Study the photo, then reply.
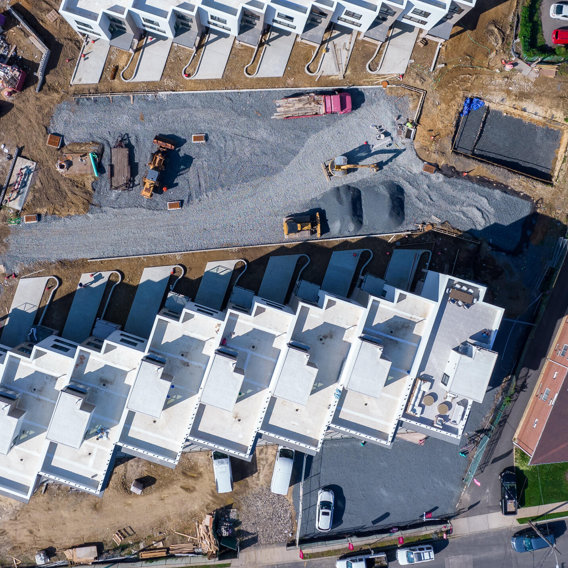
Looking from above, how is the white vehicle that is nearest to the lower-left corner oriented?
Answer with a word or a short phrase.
vertically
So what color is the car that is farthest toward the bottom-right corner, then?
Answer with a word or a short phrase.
blue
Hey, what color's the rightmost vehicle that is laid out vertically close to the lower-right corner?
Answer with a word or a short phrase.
black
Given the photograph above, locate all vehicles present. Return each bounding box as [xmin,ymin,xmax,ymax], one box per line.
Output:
[271,445,297,499]
[548,5,568,21]
[497,469,518,518]
[137,134,175,199]
[396,545,436,568]
[290,89,352,118]
[317,152,379,184]
[283,211,319,238]
[336,551,390,568]
[211,450,233,498]
[315,489,337,532]
[510,529,556,556]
